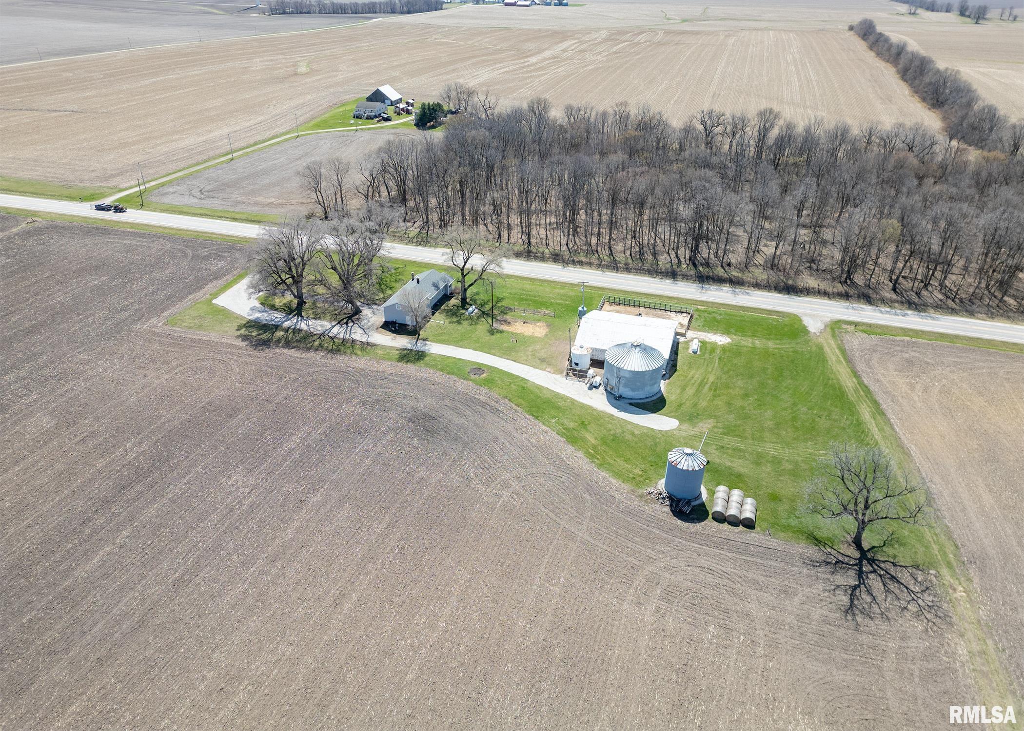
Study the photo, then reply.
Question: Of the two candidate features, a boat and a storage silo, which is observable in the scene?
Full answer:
There is a storage silo in the scene.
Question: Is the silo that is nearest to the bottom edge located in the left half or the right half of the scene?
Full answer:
The silo that is nearest to the bottom edge appears in the right half of the scene.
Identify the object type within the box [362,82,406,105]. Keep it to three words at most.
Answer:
barn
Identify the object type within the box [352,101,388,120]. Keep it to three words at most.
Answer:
house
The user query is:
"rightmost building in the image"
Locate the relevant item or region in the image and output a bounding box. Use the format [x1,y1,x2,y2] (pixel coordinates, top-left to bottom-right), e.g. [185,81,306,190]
[575,310,678,372]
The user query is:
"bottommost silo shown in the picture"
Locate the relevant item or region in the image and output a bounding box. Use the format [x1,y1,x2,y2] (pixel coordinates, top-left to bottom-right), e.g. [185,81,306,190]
[661,447,710,500]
